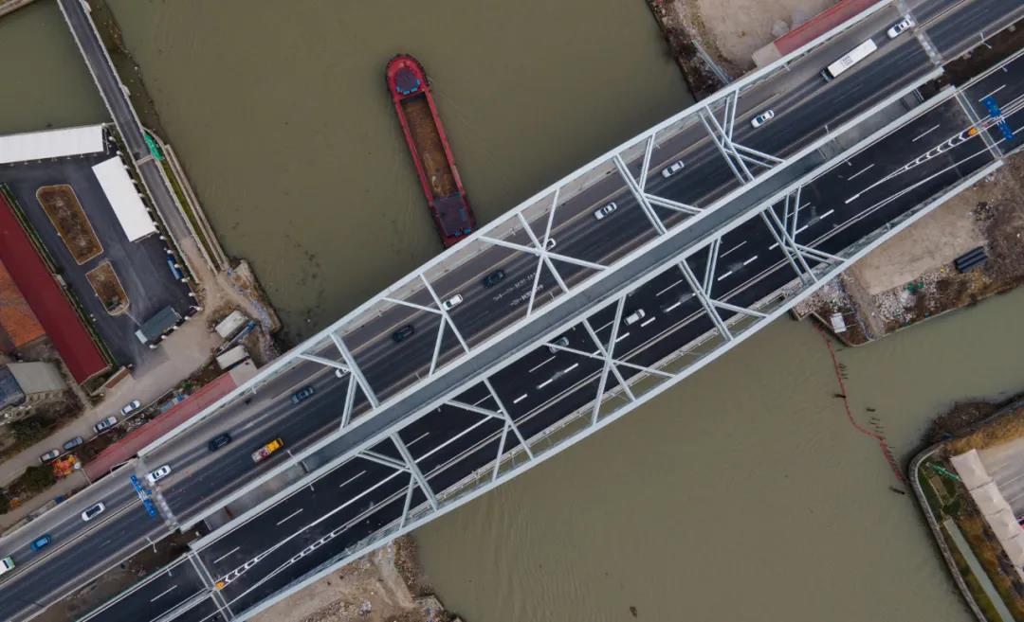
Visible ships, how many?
1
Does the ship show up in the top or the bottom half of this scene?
top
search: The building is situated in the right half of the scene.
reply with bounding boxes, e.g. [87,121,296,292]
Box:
[827,310,855,333]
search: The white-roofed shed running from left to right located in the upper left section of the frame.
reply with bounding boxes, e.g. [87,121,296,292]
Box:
[0,125,112,168]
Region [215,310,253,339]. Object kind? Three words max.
building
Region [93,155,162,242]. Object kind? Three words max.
shed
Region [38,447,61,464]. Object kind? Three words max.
car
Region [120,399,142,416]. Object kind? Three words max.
car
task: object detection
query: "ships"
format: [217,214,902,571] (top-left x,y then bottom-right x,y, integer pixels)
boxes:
[387,50,473,252]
